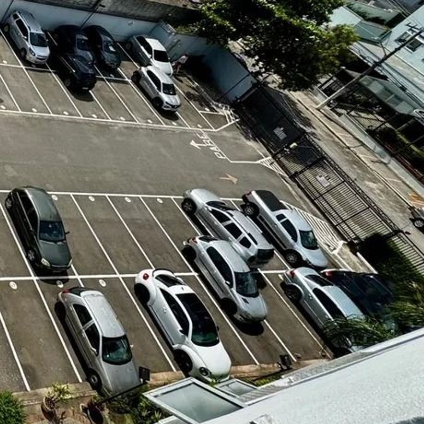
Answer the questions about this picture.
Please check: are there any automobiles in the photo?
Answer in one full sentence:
Yes, there's an automobile down there.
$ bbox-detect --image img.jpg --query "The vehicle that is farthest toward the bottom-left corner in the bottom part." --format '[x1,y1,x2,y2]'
[56,290,138,399]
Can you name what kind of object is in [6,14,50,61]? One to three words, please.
car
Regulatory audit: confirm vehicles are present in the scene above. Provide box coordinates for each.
[56,290,138,399]
[6,14,50,61]
[235,192,316,268]
[183,240,263,323]
[134,68,182,112]
[136,281,227,381]
[283,268,368,353]
[131,36,177,78]
[7,189,70,271]
[188,191,270,263]
[51,22,96,62]
[82,29,120,67]
[323,271,411,335]
[54,43,103,94]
